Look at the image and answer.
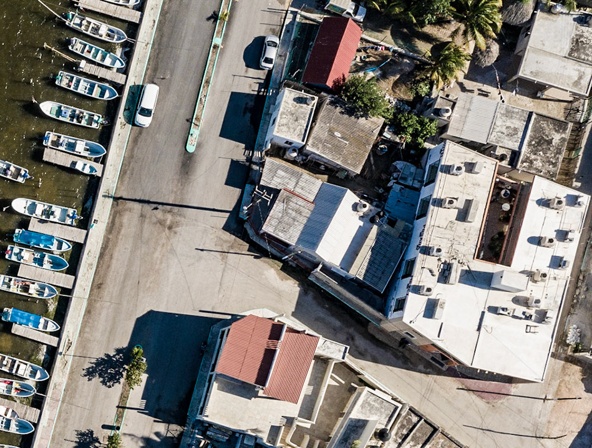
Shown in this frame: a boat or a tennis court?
boat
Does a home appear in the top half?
Yes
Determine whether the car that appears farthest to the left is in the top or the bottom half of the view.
top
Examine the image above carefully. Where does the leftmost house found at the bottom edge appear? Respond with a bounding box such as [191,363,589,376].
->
[197,315,350,448]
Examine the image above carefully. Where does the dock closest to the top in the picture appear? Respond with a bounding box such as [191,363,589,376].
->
[77,0,143,25]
